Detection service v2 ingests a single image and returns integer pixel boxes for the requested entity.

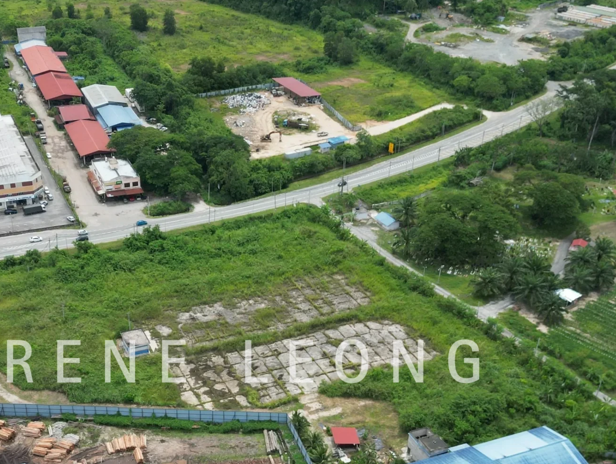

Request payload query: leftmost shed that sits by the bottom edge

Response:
[332,425,359,453]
